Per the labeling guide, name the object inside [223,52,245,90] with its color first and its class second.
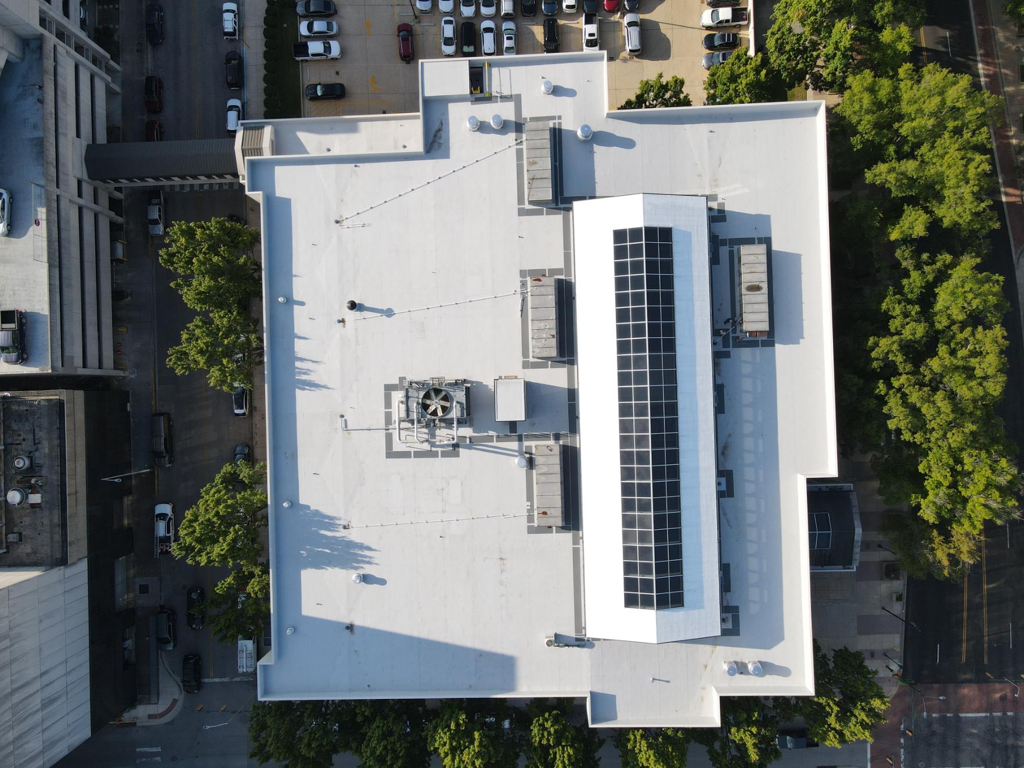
black car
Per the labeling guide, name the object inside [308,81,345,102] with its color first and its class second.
black car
